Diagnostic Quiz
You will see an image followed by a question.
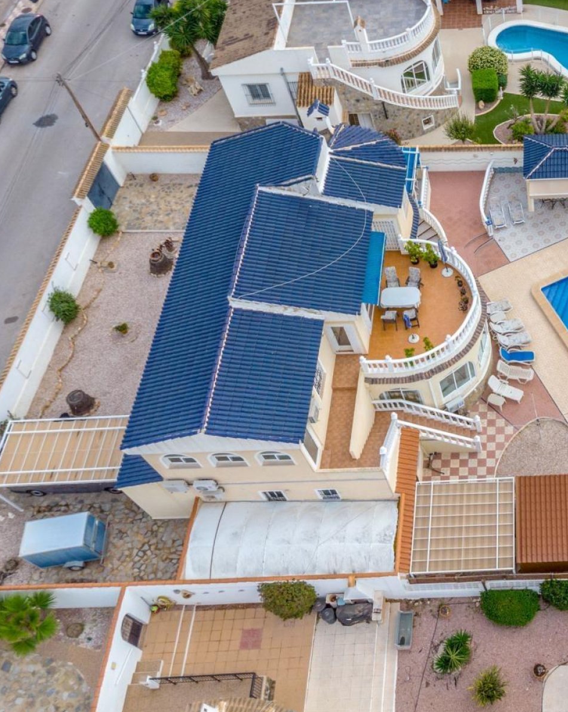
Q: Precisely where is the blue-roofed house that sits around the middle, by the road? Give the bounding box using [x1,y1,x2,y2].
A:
[119,116,493,515]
